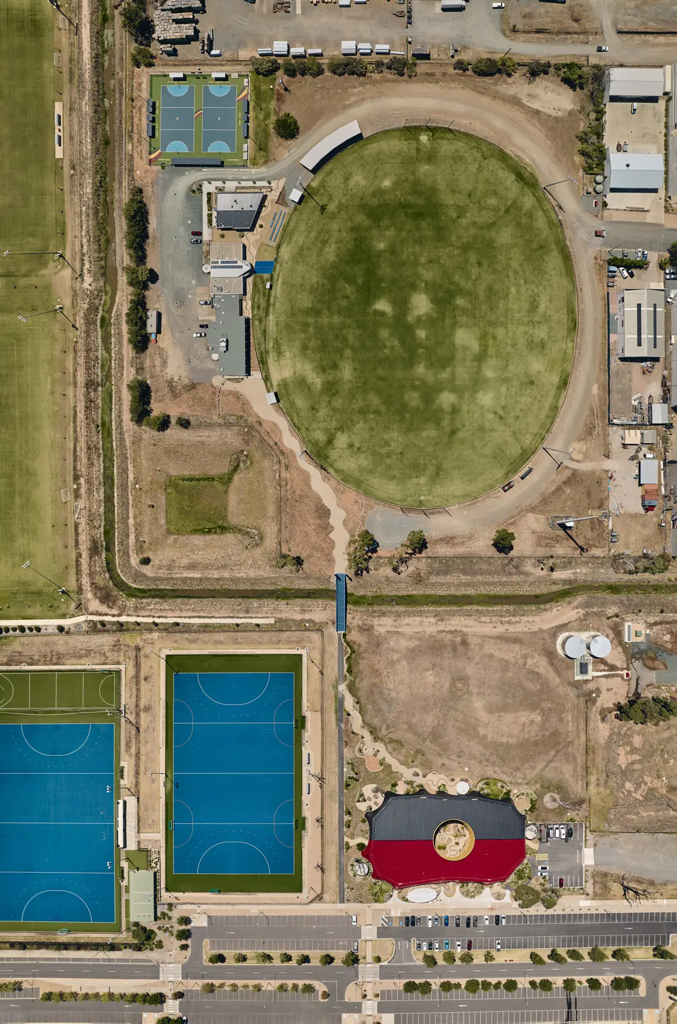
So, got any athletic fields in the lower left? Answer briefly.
Yes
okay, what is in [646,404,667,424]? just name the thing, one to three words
shed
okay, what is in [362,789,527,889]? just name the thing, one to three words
building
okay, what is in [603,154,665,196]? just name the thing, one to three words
shed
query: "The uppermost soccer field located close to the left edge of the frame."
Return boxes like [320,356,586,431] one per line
[0,0,72,619]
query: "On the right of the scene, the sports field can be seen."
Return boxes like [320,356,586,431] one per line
[266,126,577,509]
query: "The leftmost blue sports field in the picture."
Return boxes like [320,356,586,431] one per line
[0,670,120,933]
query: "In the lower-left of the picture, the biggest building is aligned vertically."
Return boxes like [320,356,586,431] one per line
[130,866,157,921]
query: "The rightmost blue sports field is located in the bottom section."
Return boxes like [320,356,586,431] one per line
[166,654,305,892]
